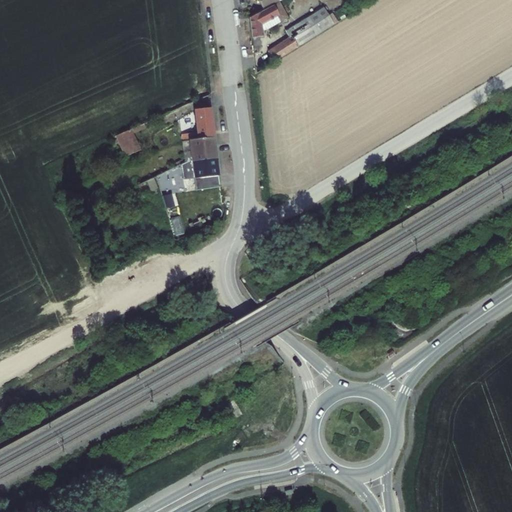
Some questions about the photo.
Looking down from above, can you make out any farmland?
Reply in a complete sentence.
Yes, farmland shows up in the scene.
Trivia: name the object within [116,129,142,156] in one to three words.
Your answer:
barn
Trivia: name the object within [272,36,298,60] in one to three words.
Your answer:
barn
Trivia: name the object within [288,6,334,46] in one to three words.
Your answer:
building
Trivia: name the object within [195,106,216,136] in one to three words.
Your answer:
house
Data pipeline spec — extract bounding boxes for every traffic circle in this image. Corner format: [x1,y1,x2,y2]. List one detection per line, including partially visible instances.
[306,384,404,481]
